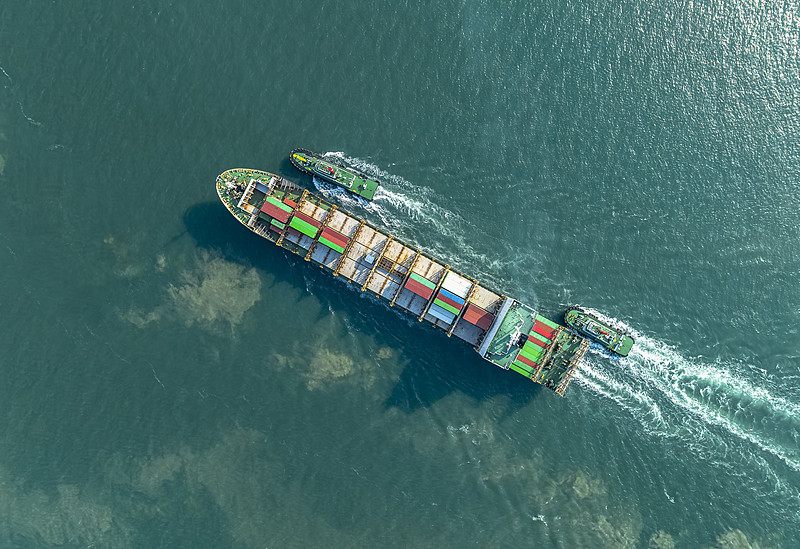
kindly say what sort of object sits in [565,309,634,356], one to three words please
boat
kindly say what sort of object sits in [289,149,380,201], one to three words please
boat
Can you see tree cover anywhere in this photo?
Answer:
No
